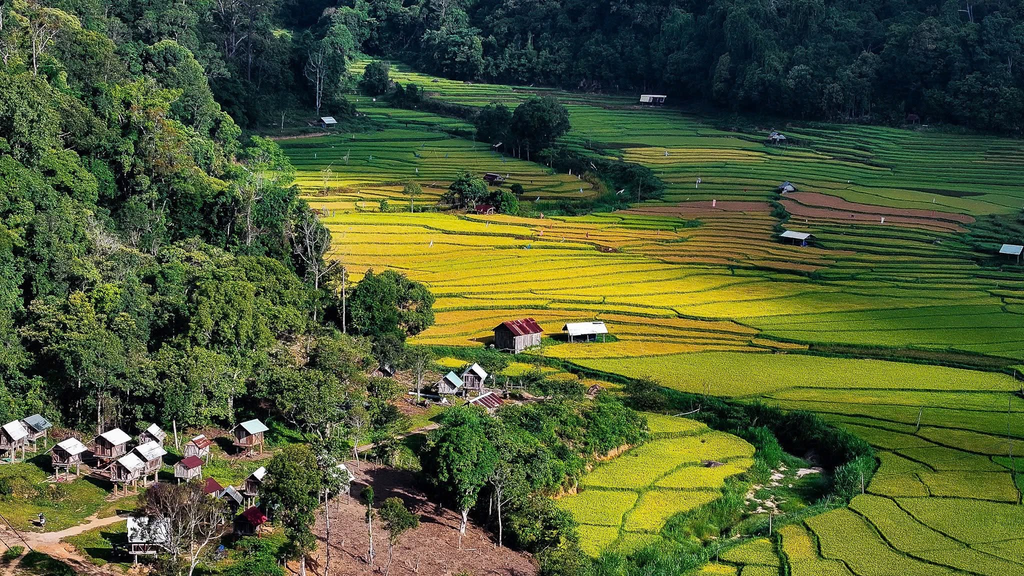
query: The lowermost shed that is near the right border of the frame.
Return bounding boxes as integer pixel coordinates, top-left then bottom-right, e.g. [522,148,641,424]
[989,240,1020,263]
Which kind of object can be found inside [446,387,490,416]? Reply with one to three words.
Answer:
shed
